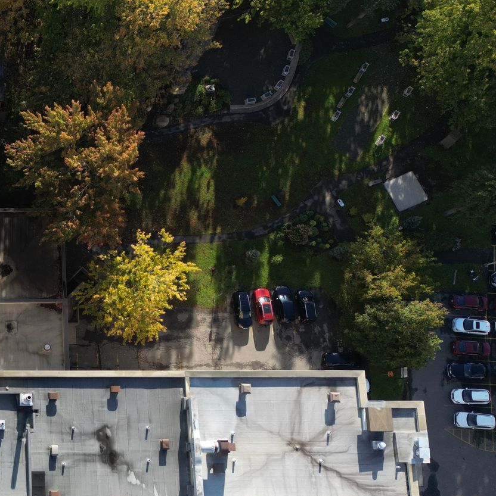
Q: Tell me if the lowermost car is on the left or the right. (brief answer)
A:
right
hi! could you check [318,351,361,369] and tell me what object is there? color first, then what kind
black car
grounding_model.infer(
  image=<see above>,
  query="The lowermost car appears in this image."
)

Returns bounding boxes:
[452,410,496,430]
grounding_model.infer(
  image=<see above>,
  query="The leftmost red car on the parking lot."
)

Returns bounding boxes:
[252,289,274,324]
